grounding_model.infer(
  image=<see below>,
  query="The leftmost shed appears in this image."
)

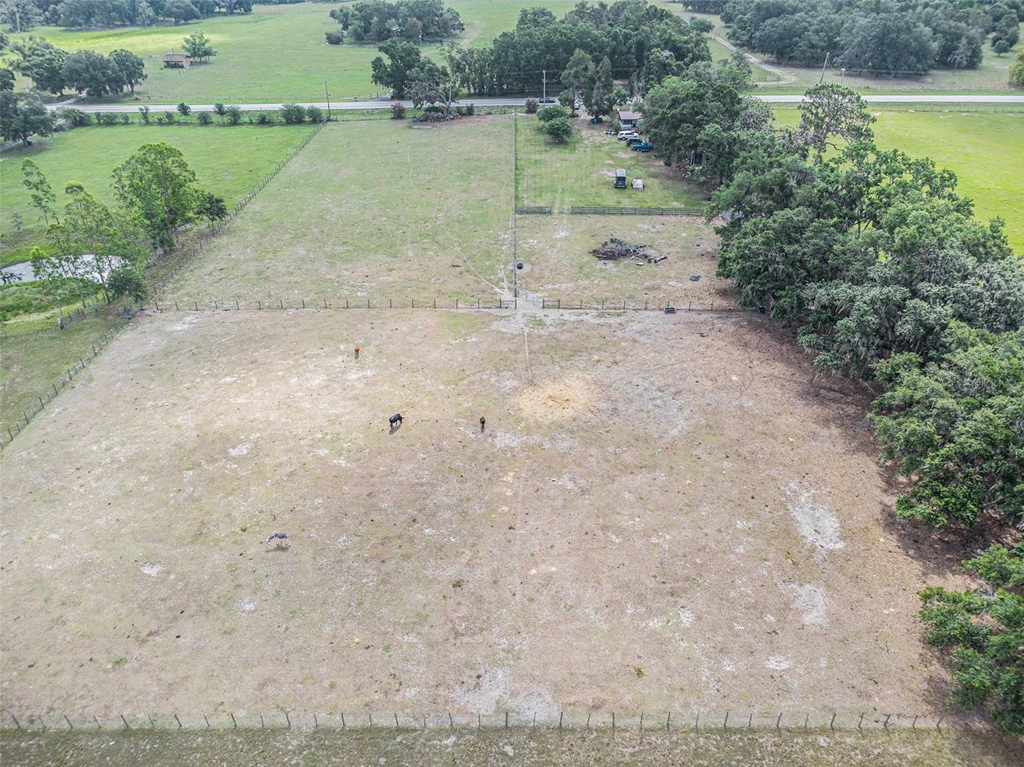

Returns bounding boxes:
[160,52,196,66]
